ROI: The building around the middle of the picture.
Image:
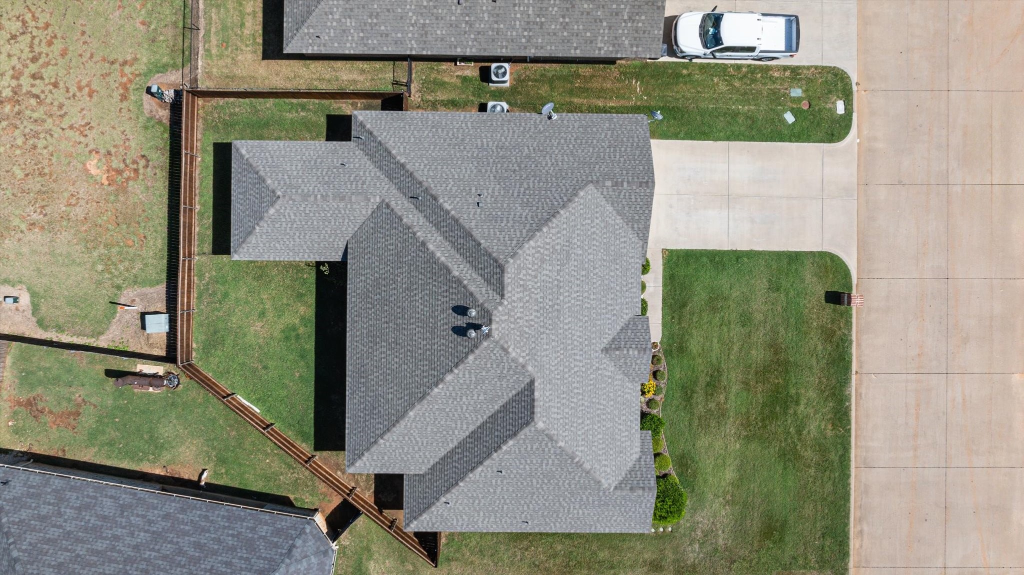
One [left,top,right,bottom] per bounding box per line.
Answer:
[230,111,657,533]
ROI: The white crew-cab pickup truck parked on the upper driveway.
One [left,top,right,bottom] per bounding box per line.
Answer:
[671,6,803,63]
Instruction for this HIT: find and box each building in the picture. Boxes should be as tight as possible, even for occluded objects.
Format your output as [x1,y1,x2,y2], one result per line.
[230,111,657,533]
[0,459,343,575]
[283,0,667,59]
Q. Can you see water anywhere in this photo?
No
